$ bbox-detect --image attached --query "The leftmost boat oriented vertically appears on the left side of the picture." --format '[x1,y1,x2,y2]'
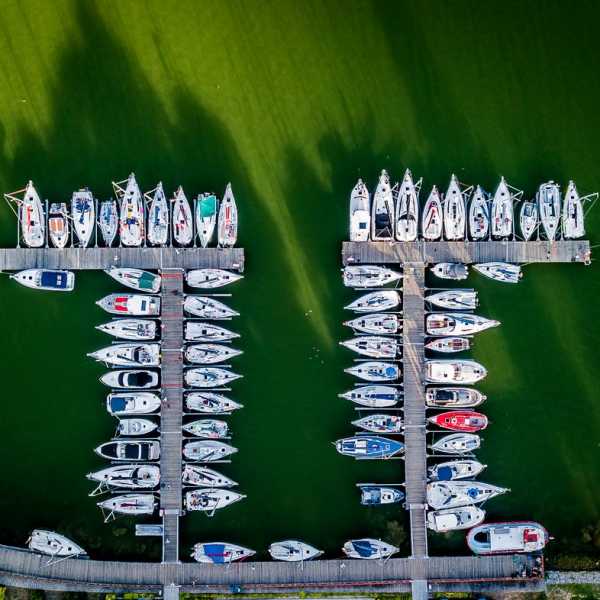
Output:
[7,179,46,252]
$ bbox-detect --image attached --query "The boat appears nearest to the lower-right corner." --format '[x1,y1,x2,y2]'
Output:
[464,520,551,555]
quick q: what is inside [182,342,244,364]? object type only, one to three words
boat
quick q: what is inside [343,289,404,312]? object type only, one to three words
boat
